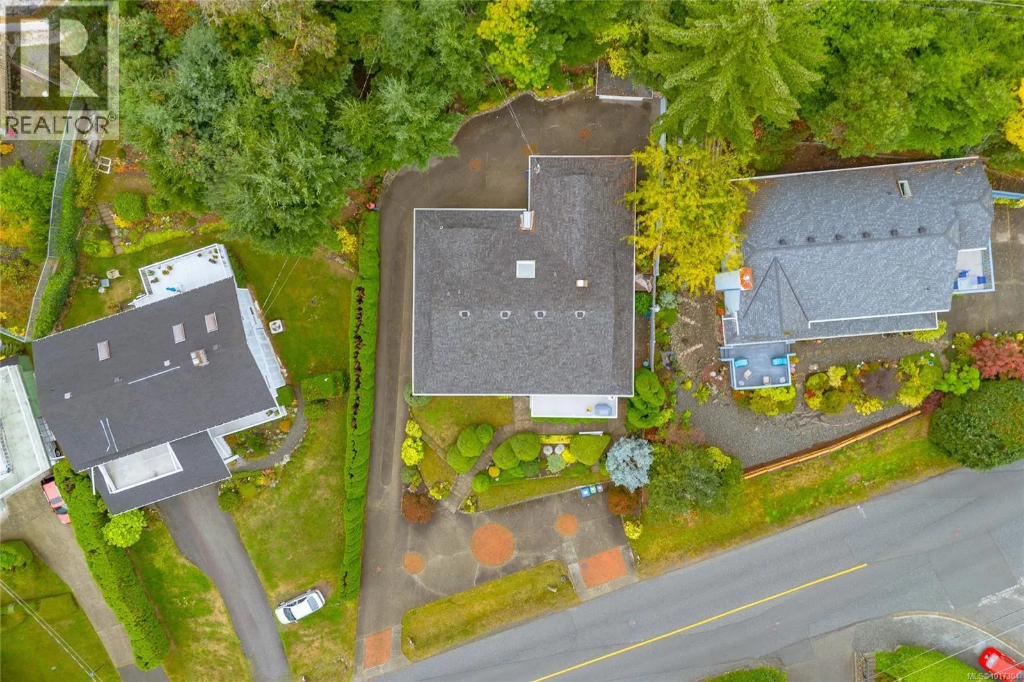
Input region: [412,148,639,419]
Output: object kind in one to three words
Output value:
house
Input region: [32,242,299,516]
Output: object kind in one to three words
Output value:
house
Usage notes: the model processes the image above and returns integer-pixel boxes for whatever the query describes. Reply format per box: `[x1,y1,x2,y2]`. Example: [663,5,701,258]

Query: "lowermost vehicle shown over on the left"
[275,587,328,622]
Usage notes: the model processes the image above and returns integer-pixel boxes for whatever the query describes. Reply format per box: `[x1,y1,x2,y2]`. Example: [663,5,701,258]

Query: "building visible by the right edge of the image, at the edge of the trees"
[710,157,1001,389]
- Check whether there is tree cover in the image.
Yes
